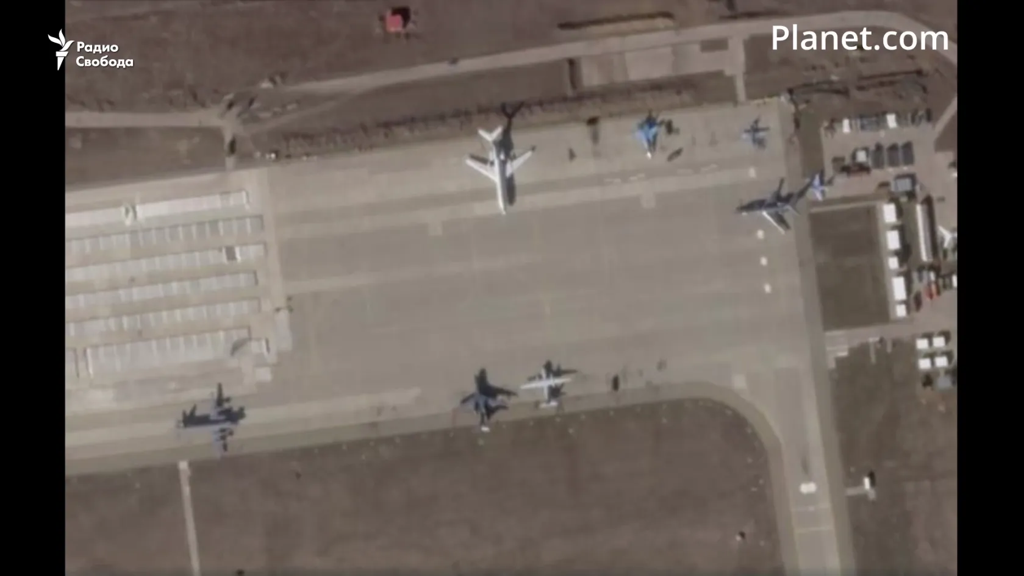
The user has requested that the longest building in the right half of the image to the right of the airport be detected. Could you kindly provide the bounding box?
[915,202,935,262]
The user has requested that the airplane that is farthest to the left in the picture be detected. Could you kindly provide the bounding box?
[176,391,240,457]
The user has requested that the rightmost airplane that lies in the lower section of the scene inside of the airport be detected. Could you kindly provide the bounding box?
[519,368,570,405]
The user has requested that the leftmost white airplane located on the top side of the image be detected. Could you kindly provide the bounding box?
[459,128,524,214]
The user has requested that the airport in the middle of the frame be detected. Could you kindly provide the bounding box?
[0,96,855,576]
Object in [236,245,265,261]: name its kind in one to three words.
shed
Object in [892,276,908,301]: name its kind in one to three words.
shed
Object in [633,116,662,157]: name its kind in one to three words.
airplane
